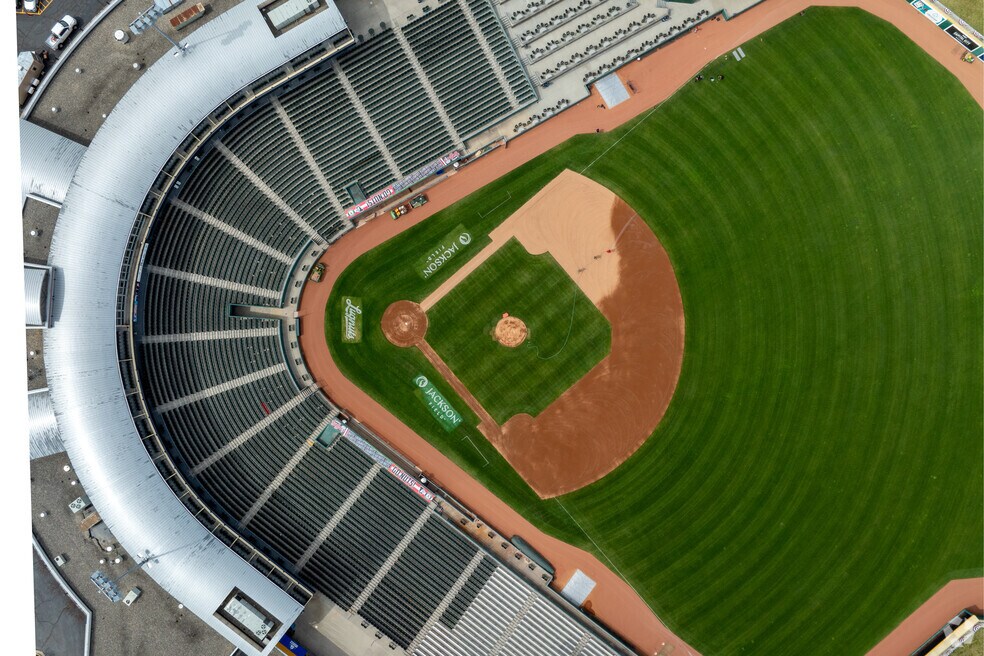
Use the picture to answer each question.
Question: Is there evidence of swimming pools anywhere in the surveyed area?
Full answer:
No, the photo shows no swimming pool.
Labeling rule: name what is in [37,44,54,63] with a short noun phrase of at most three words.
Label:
work vehicle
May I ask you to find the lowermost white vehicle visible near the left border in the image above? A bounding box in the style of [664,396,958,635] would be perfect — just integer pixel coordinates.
[44,16,80,53]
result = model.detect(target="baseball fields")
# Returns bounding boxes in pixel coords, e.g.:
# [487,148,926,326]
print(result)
[300,0,984,656]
